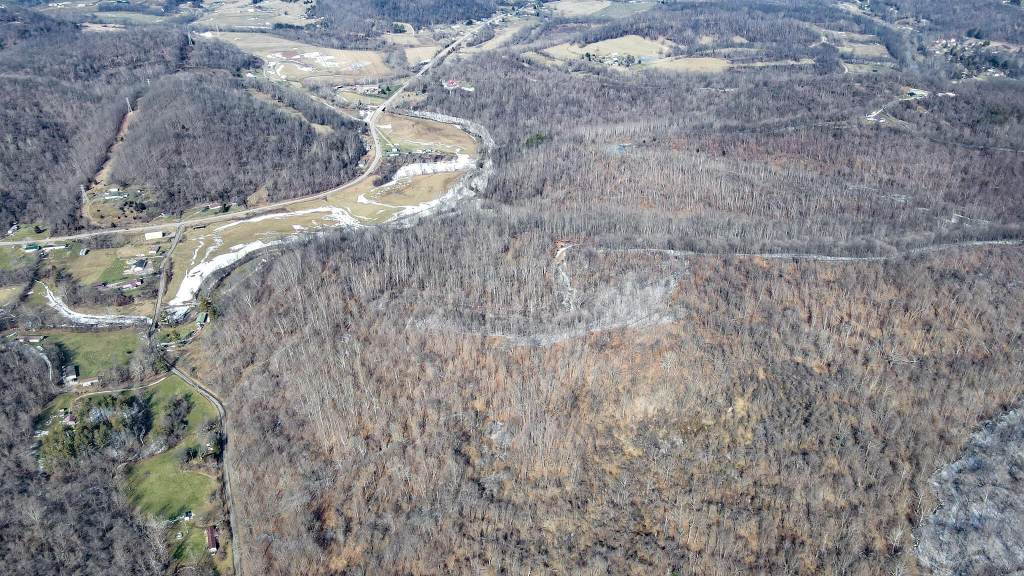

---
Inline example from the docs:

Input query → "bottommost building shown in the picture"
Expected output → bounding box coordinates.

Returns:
[203,527,220,556]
